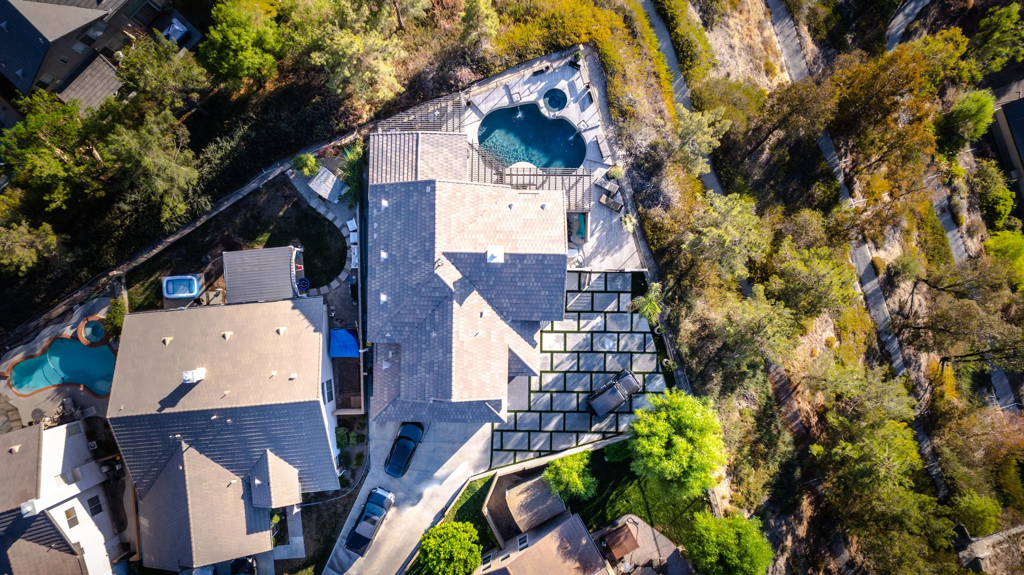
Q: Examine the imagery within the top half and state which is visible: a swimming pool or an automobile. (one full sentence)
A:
Looking within the top half, you will find a swimming pool.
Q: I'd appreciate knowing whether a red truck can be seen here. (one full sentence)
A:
No, there appears to be no red truck in this shot.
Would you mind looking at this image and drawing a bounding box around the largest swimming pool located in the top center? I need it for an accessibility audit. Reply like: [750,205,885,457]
[475,100,589,178]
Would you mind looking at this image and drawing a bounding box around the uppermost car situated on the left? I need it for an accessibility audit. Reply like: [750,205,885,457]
[383,423,422,483]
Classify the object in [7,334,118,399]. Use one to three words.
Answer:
swimming pool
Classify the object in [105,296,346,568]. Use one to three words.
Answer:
house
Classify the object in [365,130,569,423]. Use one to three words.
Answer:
house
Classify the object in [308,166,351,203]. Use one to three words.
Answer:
shed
